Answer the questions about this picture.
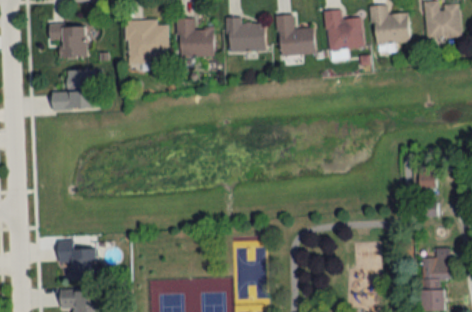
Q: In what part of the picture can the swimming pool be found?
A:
bottom left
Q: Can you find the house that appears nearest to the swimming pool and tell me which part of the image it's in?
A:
bottom left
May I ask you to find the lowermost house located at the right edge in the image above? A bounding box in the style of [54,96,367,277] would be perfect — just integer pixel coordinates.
[422,248,452,312]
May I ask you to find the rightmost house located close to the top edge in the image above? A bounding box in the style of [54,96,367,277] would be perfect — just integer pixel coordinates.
[424,0,463,38]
